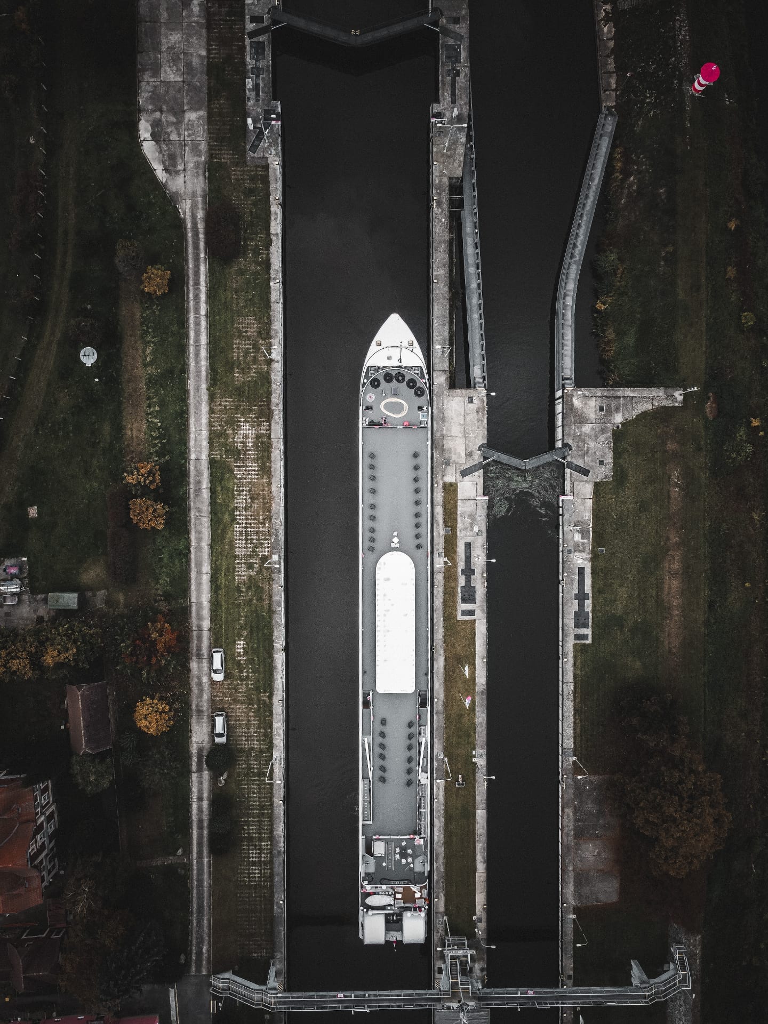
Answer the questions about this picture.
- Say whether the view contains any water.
Yes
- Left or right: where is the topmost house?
left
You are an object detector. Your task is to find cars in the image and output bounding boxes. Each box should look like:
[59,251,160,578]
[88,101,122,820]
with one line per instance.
[209,650,224,681]
[212,714,226,744]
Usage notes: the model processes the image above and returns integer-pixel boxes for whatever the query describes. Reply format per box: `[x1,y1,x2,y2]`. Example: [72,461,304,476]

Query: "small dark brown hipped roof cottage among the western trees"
[66,678,118,754]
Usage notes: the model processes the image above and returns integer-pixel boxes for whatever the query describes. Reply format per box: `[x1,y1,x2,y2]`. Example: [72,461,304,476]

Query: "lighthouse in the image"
[692,63,722,97]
